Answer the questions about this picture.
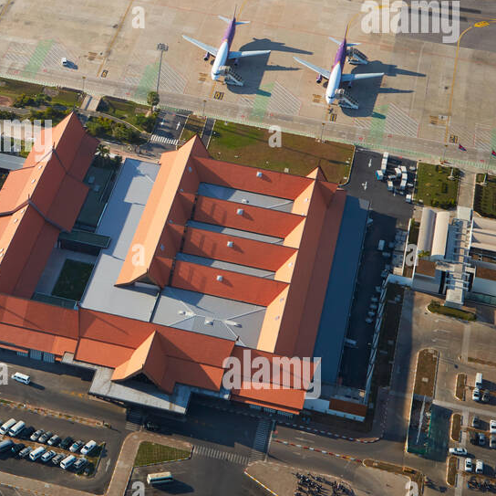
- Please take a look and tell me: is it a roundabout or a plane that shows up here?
plane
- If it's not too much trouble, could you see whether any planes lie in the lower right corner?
No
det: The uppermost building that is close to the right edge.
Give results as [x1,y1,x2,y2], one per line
[410,207,496,314]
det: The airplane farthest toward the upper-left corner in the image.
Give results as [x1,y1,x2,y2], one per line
[181,16,269,80]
